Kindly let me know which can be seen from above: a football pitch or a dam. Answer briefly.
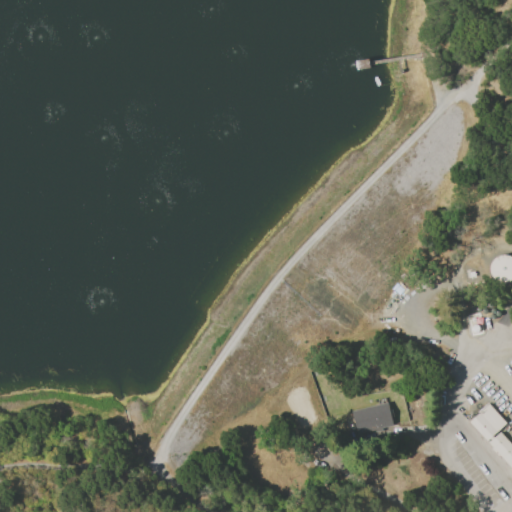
dam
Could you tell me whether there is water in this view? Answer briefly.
Yes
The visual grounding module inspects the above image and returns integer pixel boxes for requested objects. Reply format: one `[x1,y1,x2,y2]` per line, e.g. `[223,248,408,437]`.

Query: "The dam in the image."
[144,99,466,466]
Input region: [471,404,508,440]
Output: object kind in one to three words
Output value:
building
